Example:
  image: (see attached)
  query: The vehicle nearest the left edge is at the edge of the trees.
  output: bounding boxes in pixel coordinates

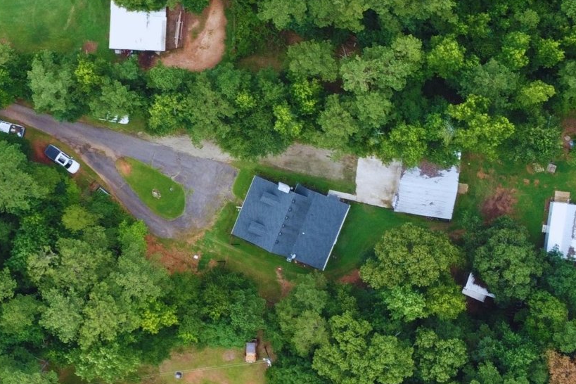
[0,118,24,138]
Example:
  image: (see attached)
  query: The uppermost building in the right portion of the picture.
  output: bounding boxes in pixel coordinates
[395,151,462,219]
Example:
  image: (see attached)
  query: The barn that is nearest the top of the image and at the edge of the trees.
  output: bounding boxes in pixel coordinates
[109,1,167,52]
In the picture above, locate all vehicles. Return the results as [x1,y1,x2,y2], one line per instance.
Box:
[0,118,24,138]
[43,143,79,174]
[244,333,258,364]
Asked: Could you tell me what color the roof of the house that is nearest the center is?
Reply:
blue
